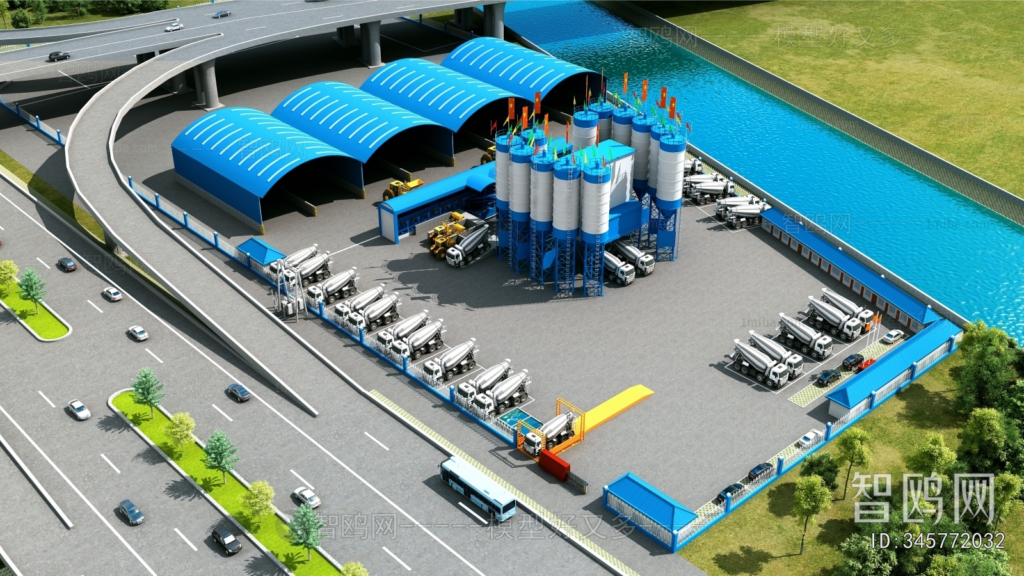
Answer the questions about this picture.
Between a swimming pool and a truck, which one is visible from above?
truck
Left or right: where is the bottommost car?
left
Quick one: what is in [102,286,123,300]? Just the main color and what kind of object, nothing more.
white car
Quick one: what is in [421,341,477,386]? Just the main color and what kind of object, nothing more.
white truck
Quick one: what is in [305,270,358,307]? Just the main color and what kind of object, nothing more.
white truck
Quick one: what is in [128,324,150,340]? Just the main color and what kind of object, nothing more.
white car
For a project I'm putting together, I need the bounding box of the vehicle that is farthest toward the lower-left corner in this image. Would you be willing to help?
[118,498,145,524]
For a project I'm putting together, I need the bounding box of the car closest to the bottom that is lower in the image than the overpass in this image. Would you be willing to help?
[212,524,241,554]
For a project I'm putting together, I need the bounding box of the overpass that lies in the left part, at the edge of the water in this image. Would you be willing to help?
[0,0,537,418]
